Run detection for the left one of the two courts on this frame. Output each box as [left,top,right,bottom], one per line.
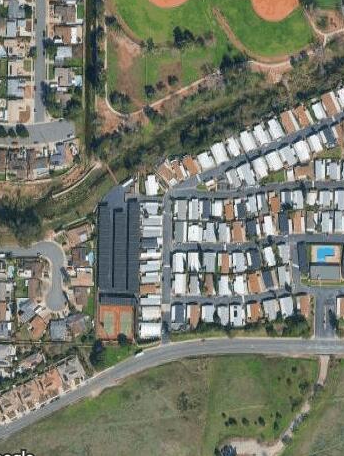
[99,306,117,340]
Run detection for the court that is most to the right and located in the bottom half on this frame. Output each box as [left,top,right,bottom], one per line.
[117,306,134,340]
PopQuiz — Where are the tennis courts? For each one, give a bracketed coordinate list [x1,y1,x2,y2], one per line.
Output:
[117,306,134,340]
[99,306,117,340]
